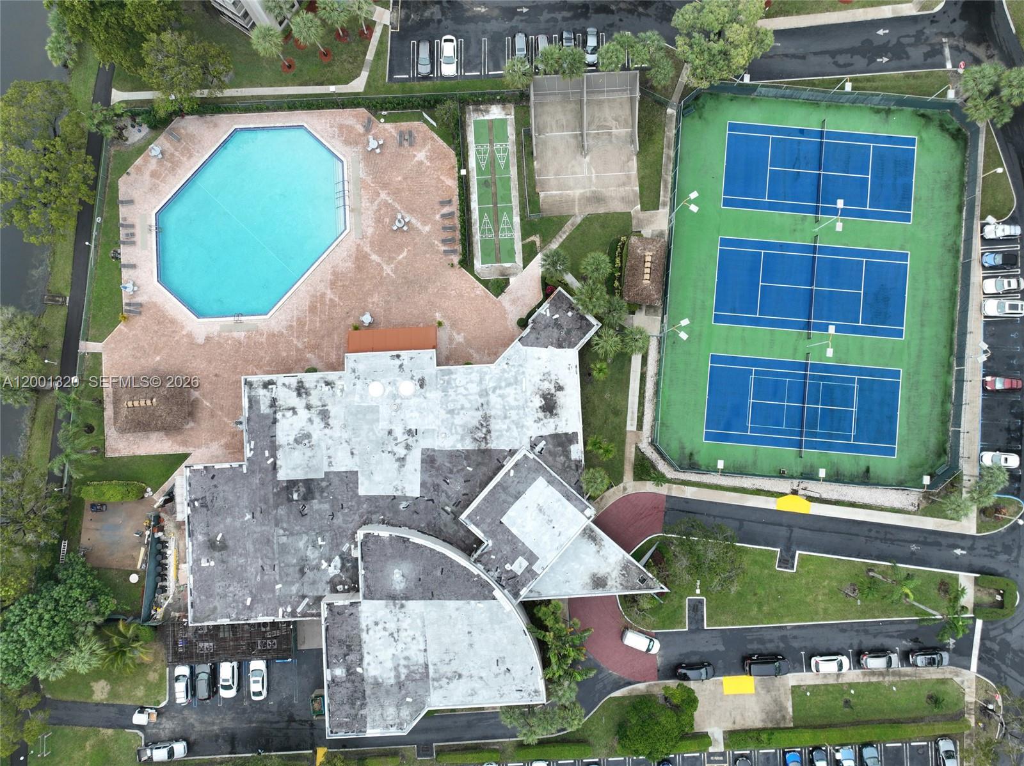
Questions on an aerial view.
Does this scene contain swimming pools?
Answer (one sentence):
Yes, there's a swimming pool down there.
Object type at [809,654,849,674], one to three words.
car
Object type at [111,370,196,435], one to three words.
shed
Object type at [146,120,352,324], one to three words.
swimming pool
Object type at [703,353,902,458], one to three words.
tennis court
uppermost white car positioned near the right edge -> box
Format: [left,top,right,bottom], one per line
[981,221,1022,240]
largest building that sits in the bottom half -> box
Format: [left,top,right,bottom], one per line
[185,287,670,739]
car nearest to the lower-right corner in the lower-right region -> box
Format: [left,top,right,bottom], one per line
[934,735,956,766]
